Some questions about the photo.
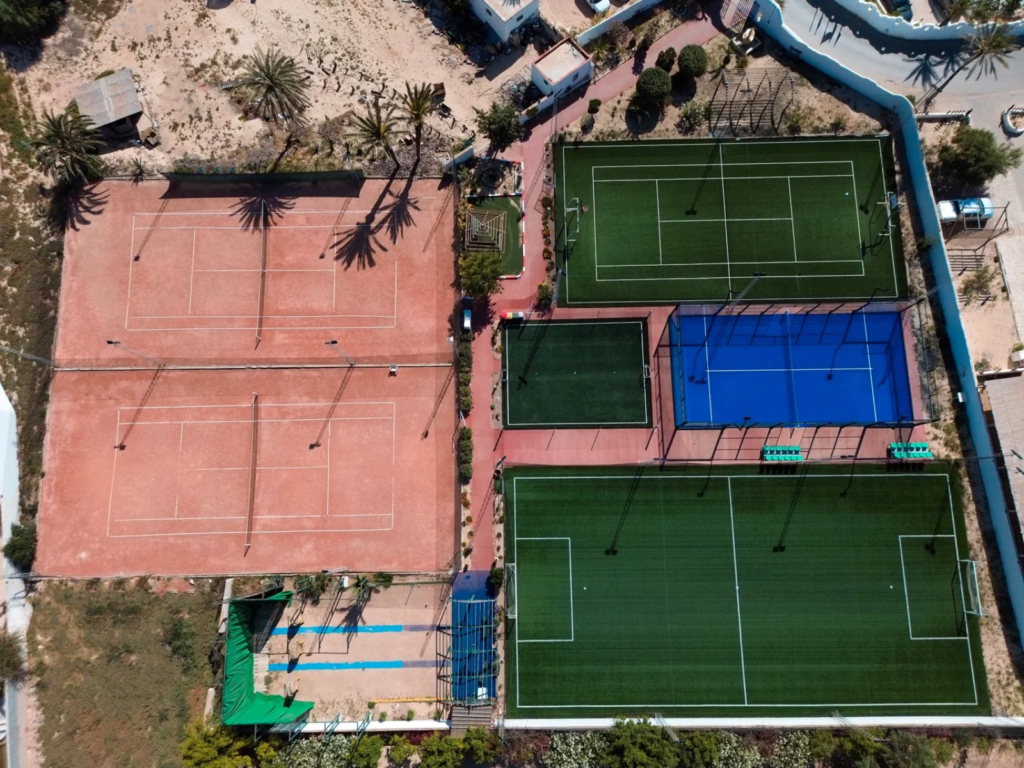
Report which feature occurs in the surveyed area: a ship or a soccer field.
soccer field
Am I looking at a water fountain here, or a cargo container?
water fountain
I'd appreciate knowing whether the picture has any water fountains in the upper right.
Yes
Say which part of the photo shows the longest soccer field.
bottom right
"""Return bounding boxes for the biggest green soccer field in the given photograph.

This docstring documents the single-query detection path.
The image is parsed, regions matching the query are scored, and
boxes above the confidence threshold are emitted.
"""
[505,462,990,717]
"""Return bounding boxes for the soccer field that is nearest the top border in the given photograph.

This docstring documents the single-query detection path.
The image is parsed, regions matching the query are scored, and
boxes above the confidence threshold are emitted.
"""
[501,317,653,429]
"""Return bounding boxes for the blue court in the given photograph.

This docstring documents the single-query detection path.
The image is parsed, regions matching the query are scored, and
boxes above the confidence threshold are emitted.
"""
[671,311,913,429]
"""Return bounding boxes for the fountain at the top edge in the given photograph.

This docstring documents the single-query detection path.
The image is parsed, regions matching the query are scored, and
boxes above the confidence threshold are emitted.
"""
[725,23,765,59]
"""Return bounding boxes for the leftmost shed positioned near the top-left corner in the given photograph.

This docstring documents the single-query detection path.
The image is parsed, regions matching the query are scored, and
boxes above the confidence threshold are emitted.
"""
[73,67,150,138]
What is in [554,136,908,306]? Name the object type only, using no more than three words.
sports court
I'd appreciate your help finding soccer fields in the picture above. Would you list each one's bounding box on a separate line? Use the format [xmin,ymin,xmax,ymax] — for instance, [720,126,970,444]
[505,462,990,717]
[501,317,653,429]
